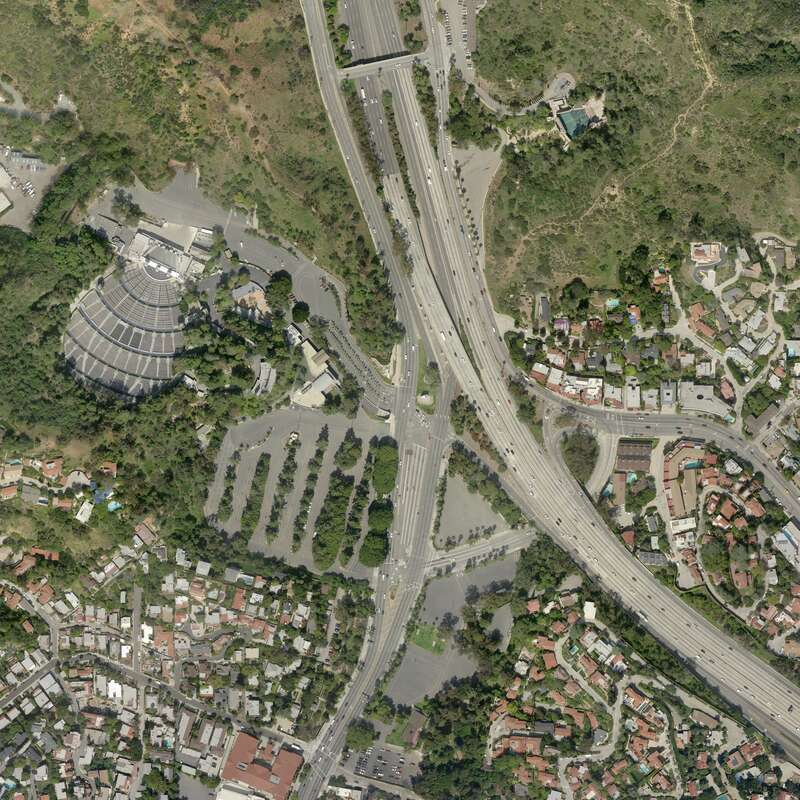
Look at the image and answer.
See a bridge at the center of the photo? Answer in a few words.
Yes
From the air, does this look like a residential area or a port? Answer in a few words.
residential area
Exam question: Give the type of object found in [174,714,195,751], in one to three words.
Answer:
shed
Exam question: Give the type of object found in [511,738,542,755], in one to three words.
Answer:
house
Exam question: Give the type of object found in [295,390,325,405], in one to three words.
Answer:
building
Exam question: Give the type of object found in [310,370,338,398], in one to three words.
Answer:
building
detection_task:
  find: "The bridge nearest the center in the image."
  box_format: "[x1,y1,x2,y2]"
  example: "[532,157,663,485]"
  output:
[382,171,527,459]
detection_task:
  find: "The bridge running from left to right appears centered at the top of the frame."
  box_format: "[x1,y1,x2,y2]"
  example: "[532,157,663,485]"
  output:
[333,47,435,79]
